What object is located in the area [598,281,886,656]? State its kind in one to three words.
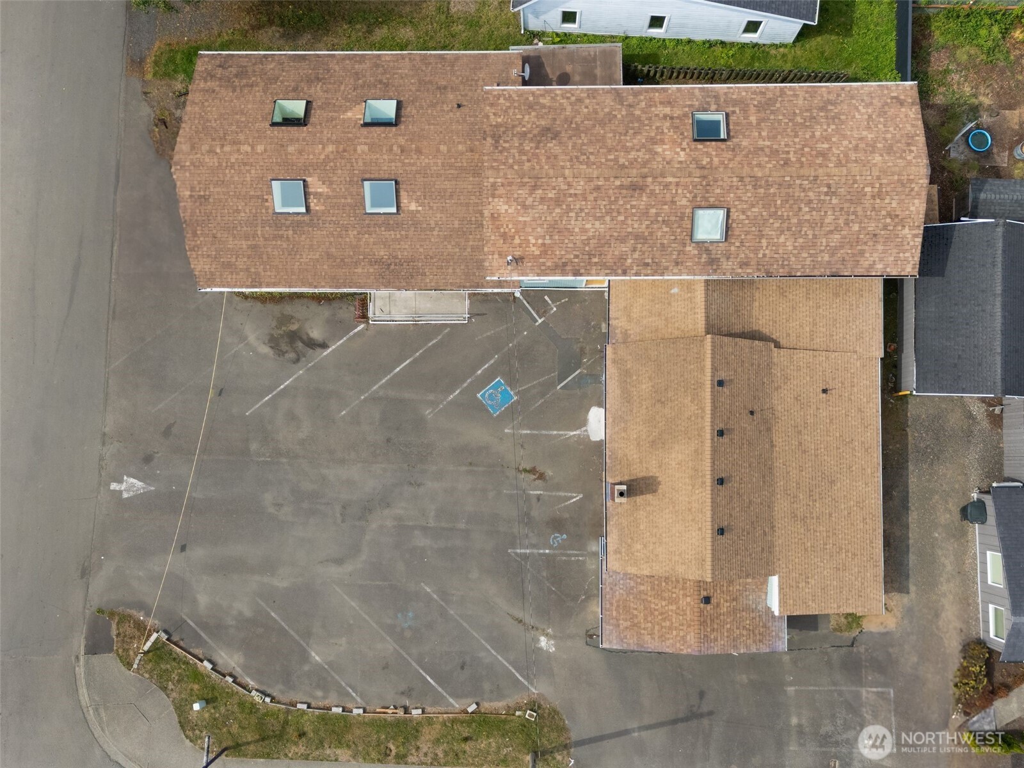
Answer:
house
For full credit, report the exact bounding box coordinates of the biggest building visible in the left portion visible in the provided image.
[176,51,522,294]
